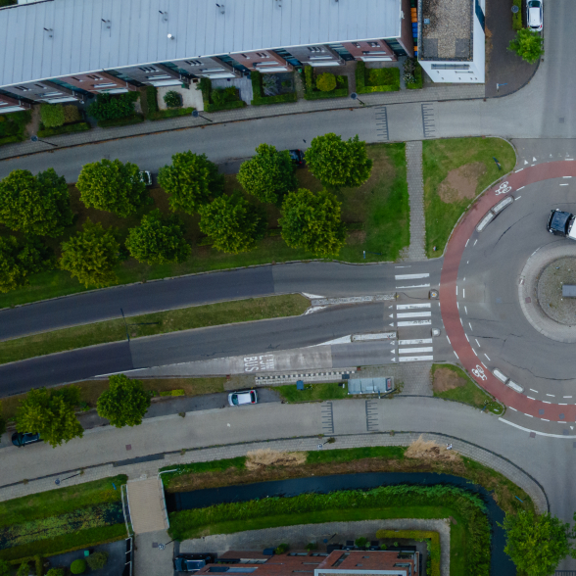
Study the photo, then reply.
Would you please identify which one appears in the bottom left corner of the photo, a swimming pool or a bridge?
bridge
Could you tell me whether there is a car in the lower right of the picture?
No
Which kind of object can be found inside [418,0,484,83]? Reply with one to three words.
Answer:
building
